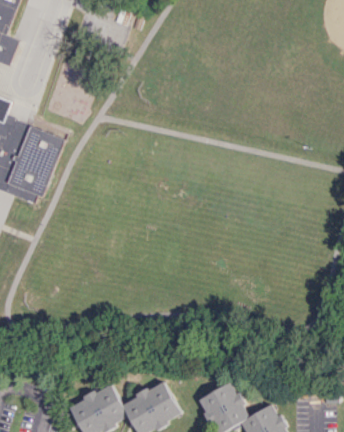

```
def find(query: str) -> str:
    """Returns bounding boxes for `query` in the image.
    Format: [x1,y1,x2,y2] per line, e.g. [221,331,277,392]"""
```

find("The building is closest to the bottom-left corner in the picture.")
[76,385,126,432]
